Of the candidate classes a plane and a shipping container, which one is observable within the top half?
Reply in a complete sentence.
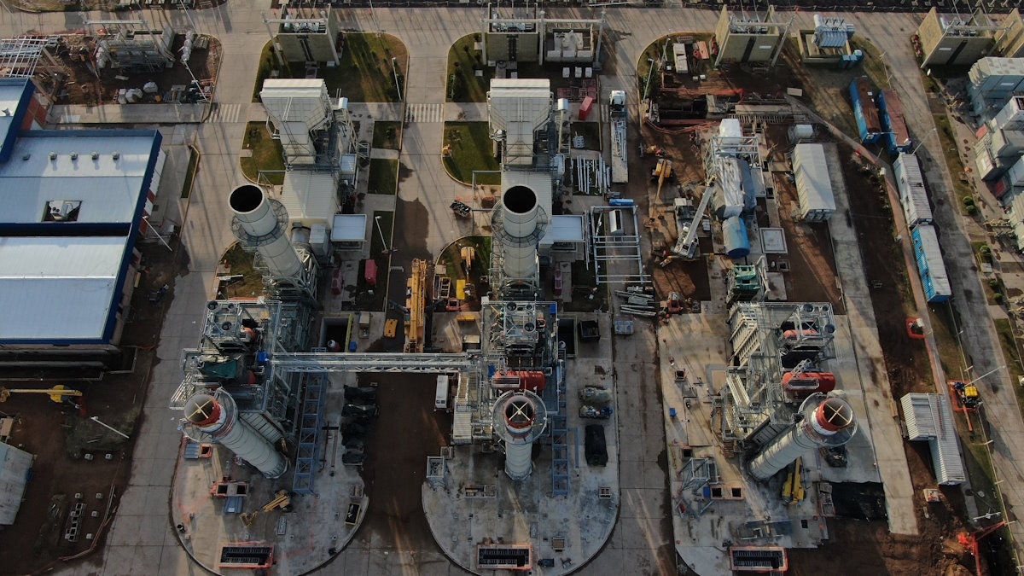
Visible within the top half is a shipping container.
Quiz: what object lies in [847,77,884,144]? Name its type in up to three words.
shipping container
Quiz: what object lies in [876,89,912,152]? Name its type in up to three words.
shipping container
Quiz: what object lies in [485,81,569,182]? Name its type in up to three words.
house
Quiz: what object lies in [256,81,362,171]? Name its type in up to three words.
house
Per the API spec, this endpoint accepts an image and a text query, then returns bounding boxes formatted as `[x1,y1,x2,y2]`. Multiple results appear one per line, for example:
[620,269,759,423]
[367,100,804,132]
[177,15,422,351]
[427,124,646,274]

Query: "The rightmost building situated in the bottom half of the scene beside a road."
[703,292,858,450]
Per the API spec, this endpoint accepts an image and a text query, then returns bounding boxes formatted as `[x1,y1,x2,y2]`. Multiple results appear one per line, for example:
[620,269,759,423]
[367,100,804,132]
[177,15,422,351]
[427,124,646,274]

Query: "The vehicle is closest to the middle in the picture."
[458,236,477,289]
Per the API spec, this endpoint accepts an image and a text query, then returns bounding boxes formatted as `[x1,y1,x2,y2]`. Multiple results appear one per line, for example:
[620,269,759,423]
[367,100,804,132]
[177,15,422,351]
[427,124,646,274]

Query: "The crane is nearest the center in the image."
[391,251,447,353]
